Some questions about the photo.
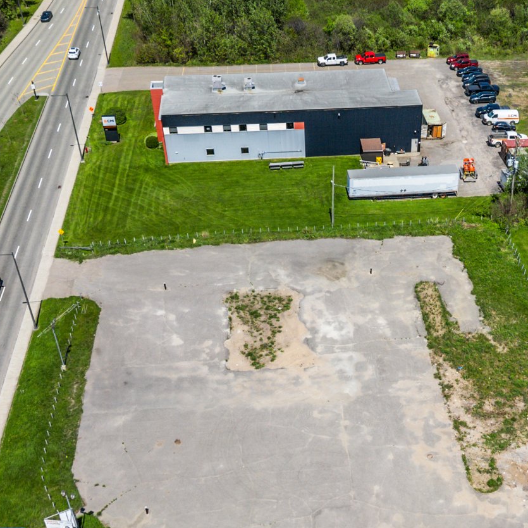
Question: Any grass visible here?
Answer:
Yes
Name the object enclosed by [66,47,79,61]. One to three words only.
vehicle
